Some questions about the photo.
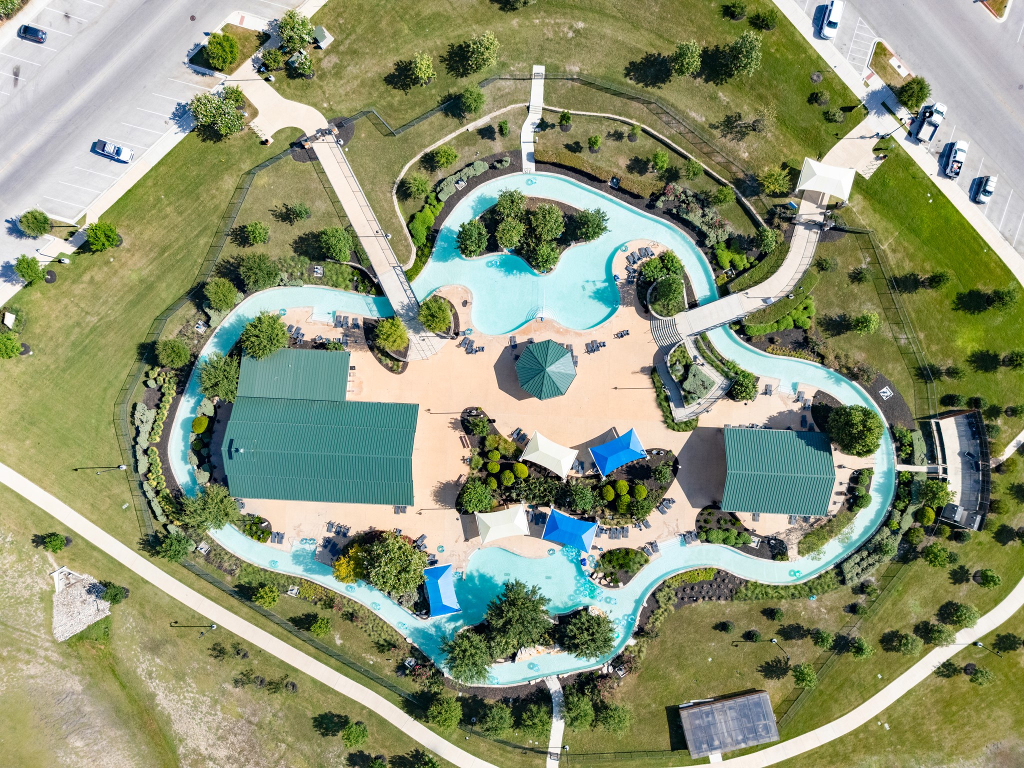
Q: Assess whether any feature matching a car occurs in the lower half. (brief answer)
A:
No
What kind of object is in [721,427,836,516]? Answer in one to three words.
building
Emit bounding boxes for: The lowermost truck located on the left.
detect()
[92,137,138,164]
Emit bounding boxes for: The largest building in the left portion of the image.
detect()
[221,349,419,506]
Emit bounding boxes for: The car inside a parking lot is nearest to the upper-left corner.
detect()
[16,23,52,46]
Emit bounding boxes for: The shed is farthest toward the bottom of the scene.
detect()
[676,685,780,759]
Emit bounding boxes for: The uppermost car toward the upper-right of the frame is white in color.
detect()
[819,0,845,42]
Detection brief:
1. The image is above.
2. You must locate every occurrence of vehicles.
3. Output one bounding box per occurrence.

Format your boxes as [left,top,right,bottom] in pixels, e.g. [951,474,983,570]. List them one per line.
[819,0,845,42]
[972,171,999,208]
[92,137,138,164]
[914,100,948,145]
[943,138,970,182]
[16,23,52,46]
